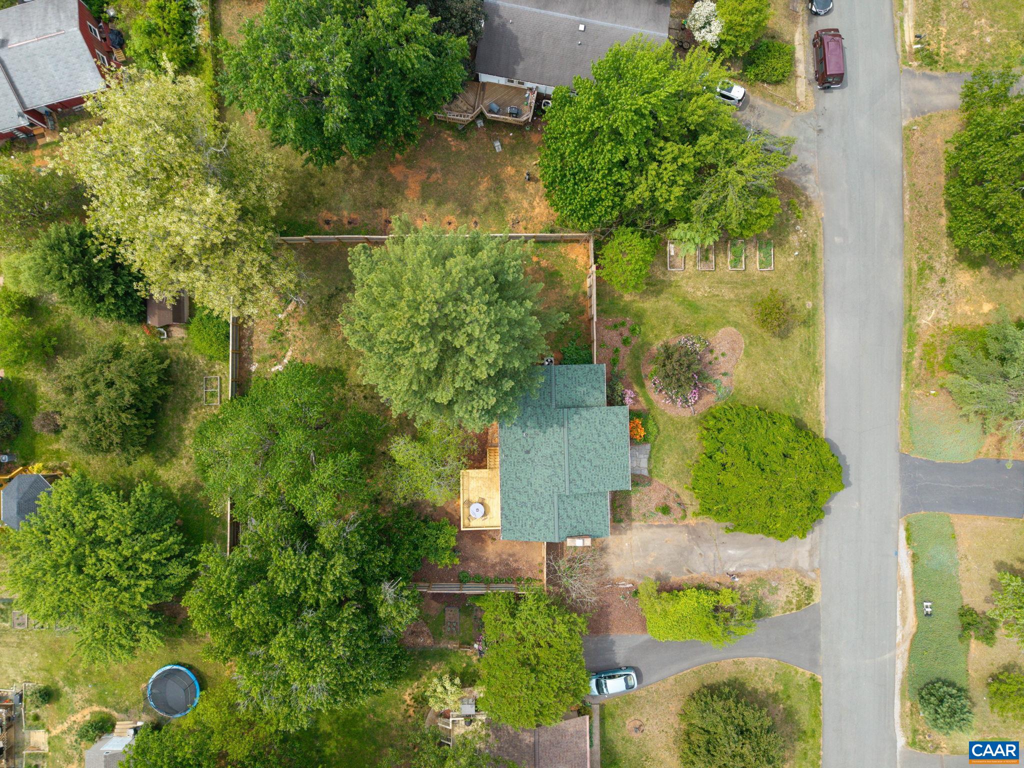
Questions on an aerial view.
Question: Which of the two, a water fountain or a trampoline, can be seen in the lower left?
trampoline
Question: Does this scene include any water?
No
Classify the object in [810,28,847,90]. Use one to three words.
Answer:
car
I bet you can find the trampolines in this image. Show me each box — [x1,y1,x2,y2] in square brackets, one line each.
[142,662,203,718]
